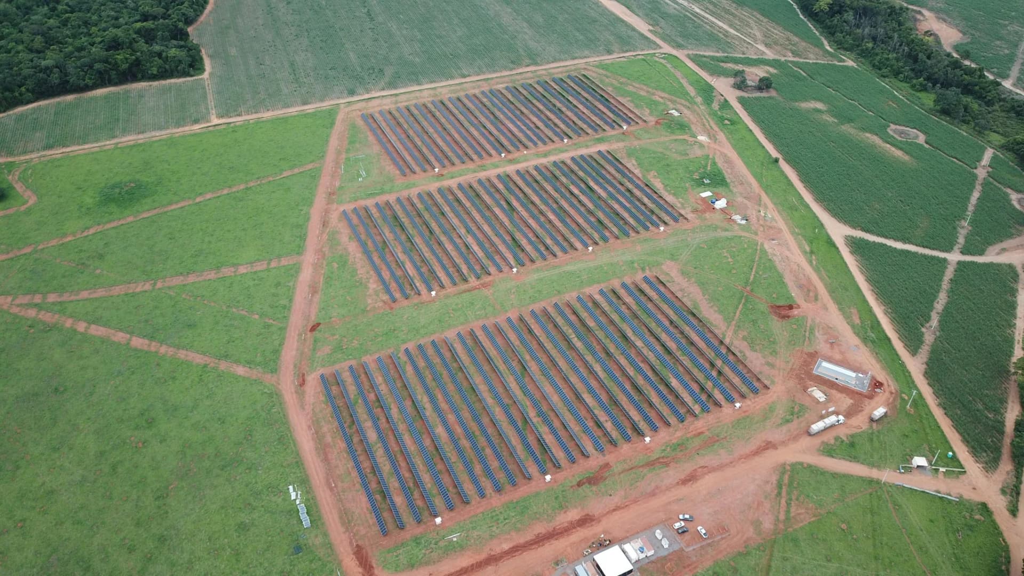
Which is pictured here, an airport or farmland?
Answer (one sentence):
This image shows farmland.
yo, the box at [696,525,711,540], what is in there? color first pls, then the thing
white vehicle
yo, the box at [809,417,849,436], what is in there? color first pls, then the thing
white vehicle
